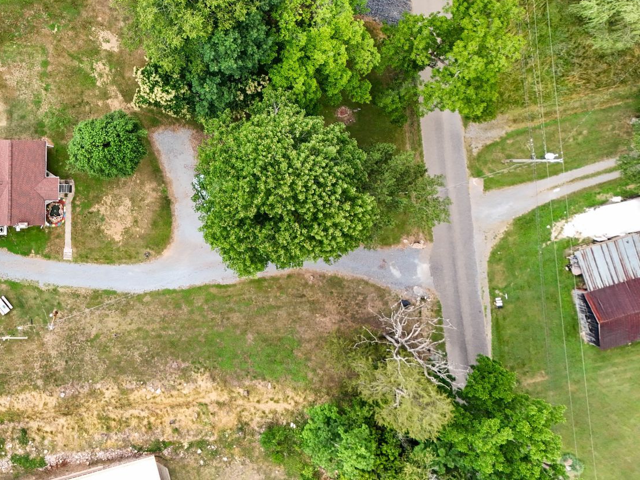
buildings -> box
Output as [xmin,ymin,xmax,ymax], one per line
[560,231,640,350]
[52,449,170,480]
[0,140,60,230]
